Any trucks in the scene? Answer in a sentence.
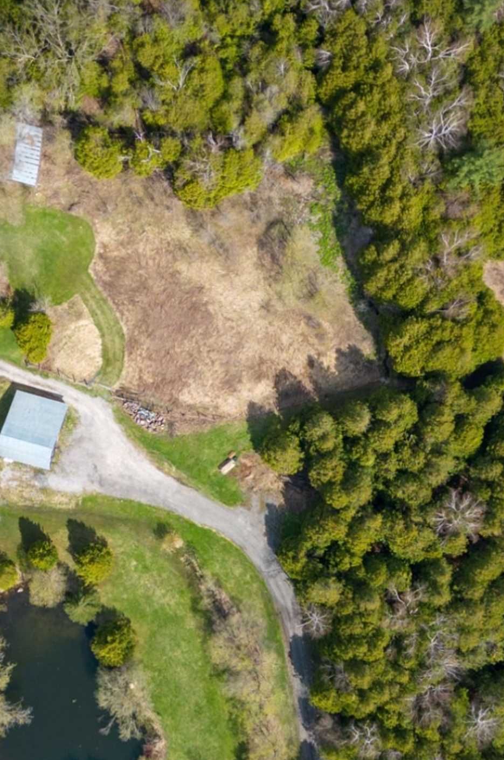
No, no truck is visible in the scene.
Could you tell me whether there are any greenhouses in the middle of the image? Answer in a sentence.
No, looking in the middle of the image, there is no greenhouse.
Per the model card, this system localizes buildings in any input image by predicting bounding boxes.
[13,125,43,188]
[0,390,68,470]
